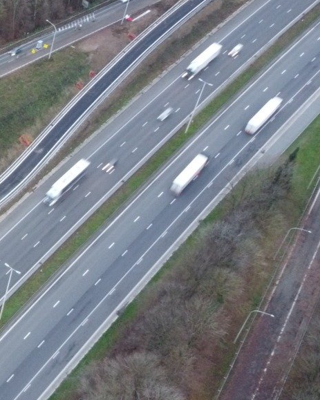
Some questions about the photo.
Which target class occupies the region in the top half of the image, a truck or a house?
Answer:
truck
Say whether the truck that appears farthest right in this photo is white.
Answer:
Yes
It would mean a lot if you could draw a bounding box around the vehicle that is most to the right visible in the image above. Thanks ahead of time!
[246,99,281,134]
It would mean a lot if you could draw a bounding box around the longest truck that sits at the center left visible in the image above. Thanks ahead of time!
[47,160,89,203]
